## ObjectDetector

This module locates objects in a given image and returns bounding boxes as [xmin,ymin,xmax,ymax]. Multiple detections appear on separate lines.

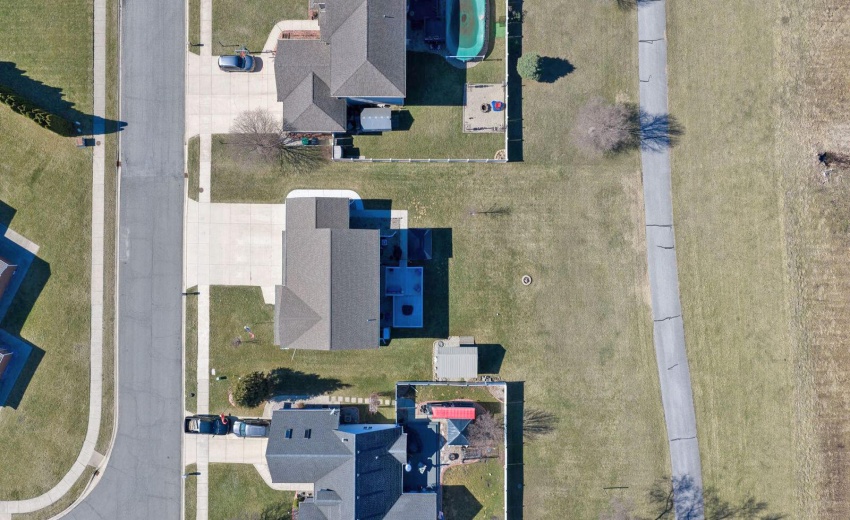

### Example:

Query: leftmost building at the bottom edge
[266,407,437,520]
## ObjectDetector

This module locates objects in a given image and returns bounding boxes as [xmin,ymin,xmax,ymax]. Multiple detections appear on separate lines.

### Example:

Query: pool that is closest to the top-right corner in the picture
[448,0,489,63]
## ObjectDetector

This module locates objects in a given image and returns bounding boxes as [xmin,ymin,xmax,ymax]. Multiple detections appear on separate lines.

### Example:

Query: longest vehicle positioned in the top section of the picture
[219,54,256,72]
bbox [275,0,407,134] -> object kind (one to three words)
house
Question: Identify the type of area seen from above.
residential area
